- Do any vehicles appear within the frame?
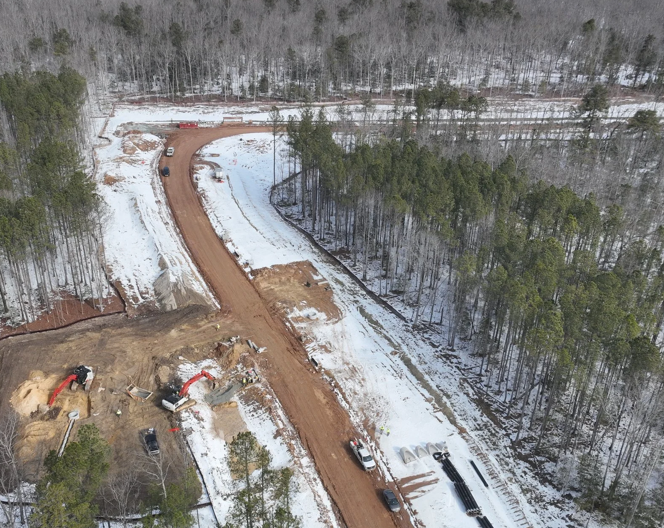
Yes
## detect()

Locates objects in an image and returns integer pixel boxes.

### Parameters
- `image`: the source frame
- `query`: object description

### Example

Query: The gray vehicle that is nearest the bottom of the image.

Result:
[383,488,403,513]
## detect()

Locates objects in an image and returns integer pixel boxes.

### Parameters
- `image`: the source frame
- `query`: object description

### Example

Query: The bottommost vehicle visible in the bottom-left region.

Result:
[143,427,160,455]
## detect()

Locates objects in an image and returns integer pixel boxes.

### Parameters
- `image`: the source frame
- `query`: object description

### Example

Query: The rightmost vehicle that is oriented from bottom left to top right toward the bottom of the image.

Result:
[168,370,221,415]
